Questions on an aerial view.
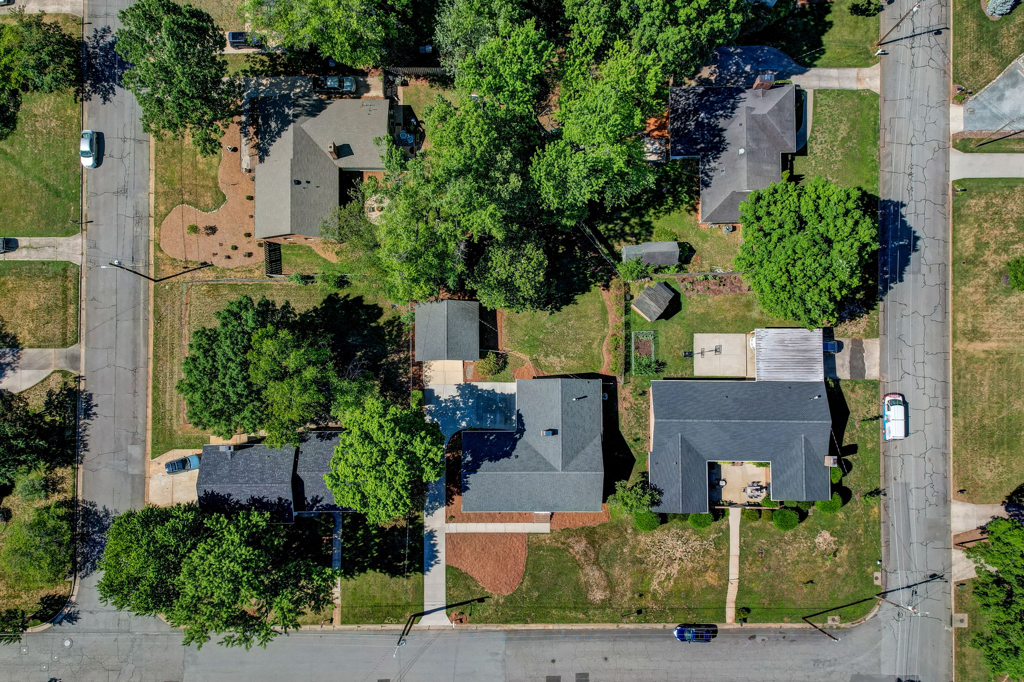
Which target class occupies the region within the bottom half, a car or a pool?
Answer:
car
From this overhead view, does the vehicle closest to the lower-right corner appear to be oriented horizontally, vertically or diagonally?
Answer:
vertically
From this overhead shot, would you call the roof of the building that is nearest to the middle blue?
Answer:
No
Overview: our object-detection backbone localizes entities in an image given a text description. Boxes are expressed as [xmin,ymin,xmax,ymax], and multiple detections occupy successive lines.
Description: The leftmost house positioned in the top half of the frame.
[254,90,390,239]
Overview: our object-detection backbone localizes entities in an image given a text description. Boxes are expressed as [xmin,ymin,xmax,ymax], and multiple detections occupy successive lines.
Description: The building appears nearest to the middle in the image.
[415,299,479,361]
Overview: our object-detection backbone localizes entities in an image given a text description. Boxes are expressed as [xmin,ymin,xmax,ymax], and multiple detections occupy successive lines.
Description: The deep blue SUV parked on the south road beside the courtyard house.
[674,628,713,647]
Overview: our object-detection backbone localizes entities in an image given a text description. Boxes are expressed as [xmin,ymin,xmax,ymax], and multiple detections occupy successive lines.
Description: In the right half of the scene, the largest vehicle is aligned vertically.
[884,393,907,440]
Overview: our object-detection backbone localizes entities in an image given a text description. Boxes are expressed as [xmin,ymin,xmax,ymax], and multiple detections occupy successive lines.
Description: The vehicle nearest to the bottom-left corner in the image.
[162,454,199,475]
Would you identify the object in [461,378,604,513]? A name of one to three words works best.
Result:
house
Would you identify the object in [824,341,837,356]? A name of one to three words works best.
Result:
vehicle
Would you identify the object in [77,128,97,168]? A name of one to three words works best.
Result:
car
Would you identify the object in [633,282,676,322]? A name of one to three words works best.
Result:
shed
